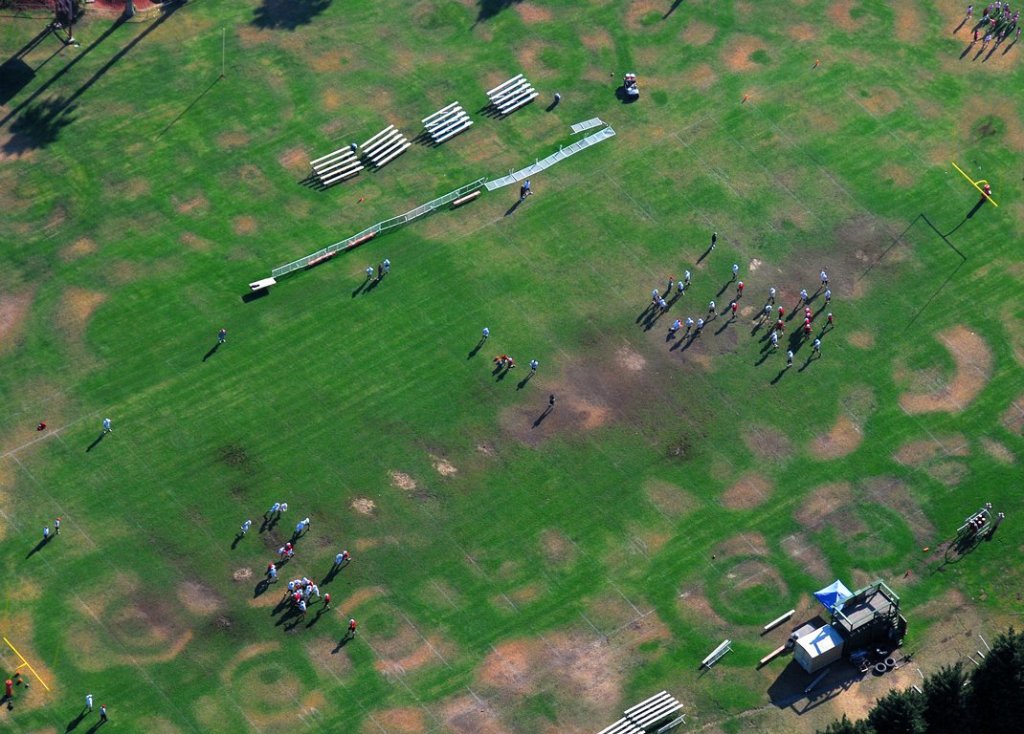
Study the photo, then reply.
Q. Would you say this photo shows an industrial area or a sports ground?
sports ground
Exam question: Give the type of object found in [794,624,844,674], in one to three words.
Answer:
shed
